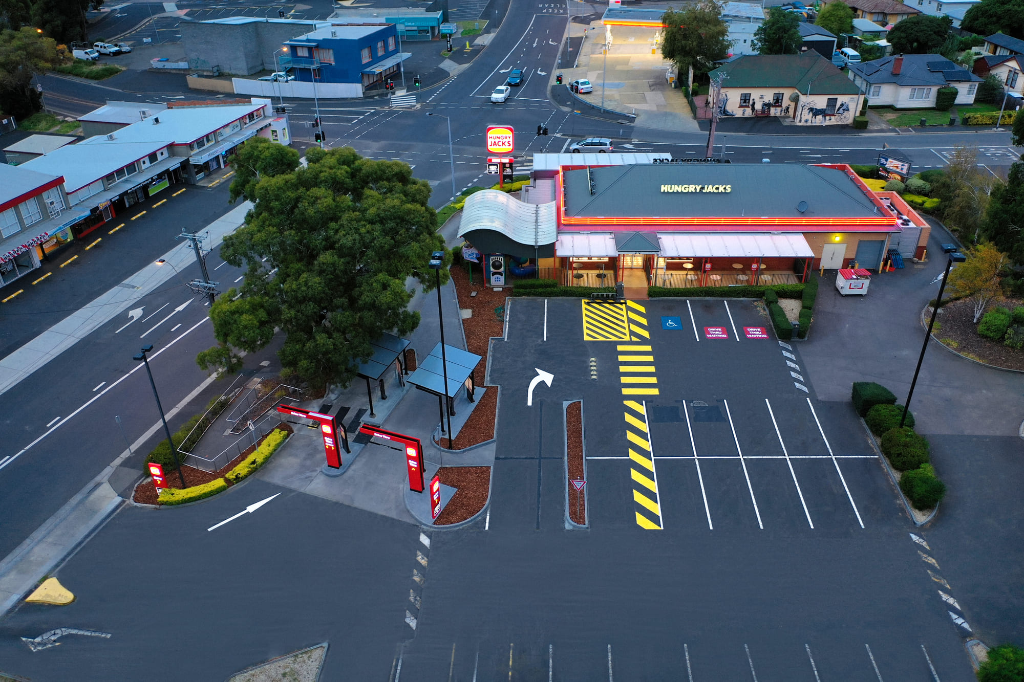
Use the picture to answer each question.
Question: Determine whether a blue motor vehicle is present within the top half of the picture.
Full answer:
Yes, you'll find a blue motor vehicle within the top half of the picture.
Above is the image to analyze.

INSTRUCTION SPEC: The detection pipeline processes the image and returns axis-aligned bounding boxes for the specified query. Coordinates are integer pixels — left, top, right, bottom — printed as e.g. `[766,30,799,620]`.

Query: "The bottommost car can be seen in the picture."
[569,134,614,154]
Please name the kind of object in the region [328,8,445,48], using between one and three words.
building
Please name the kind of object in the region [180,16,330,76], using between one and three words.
building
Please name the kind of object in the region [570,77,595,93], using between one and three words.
car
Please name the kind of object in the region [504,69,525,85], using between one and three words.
car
